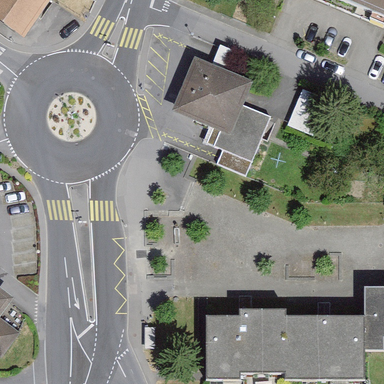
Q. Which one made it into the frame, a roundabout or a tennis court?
roundabout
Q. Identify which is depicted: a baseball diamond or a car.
car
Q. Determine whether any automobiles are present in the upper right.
Yes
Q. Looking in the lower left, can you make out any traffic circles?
No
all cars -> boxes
[59,18,82,39]
[0,181,12,192]
[370,55,384,80]
[304,22,318,44]
[324,26,338,50]
[338,36,352,58]
[296,49,318,64]
[8,204,30,214]
[6,191,27,202]
[321,58,346,75]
